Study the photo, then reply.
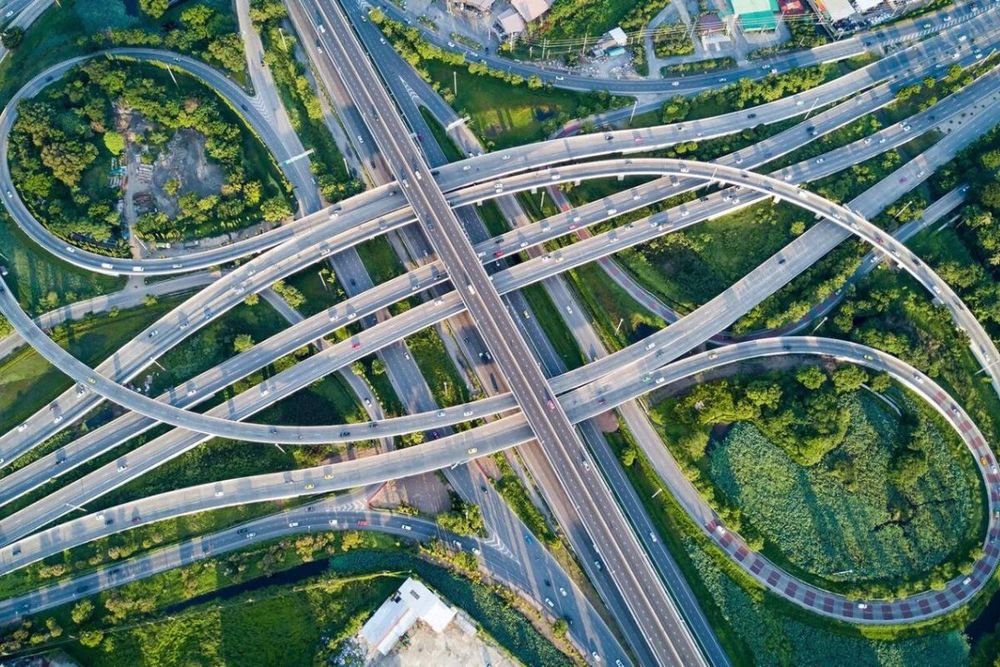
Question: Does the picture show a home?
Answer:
Yes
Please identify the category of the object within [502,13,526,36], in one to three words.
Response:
house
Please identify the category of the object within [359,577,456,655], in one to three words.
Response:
building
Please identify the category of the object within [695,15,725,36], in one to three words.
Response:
house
